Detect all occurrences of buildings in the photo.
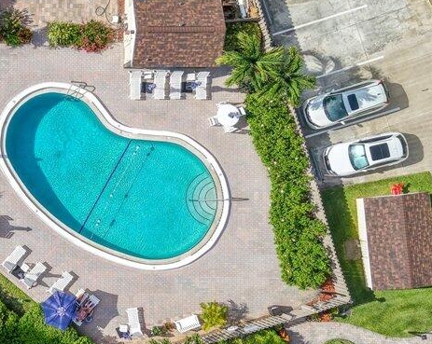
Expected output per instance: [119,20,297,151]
[349,191,432,293]
[125,0,226,74]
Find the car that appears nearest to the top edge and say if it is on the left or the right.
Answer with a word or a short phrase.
right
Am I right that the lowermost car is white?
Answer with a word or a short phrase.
Yes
